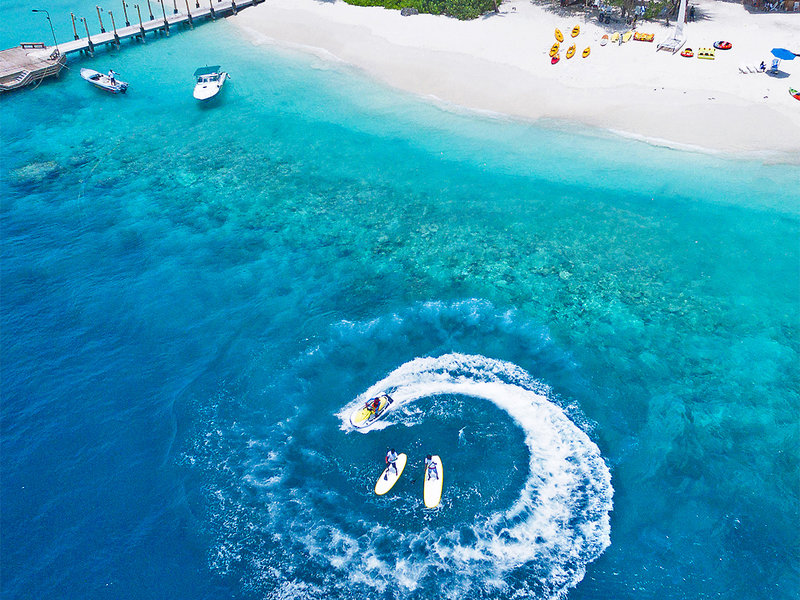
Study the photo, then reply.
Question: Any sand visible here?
Yes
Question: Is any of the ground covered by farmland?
No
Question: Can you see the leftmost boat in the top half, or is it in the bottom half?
top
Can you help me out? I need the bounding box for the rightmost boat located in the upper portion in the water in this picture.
[195,65,231,103]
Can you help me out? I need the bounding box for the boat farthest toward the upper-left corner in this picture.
[80,67,131,98]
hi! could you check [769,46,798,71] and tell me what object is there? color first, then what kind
blue umbrella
